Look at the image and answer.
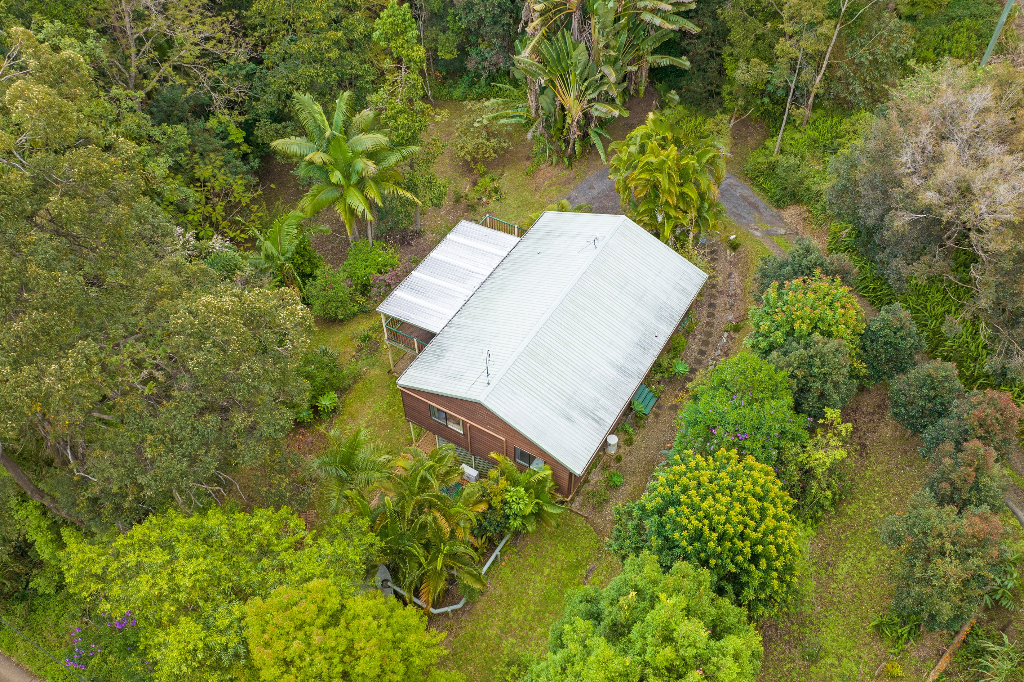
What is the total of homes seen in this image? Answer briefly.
1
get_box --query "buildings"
[374,212,708,502]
